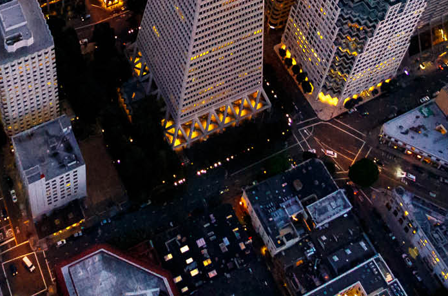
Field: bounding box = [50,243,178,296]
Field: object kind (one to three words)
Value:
building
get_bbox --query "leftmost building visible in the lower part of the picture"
[11,108,108,247]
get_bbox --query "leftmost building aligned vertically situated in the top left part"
[0,0,62,136]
